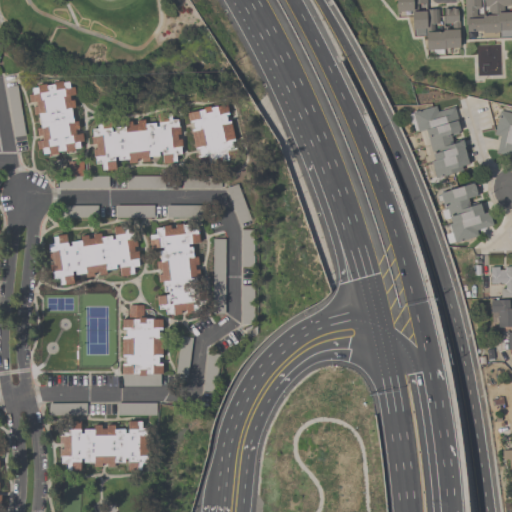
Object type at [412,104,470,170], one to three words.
house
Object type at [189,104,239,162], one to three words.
building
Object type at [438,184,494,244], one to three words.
house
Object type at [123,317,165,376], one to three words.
building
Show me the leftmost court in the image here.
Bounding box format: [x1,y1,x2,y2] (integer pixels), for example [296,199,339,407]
[43,296,78,314]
